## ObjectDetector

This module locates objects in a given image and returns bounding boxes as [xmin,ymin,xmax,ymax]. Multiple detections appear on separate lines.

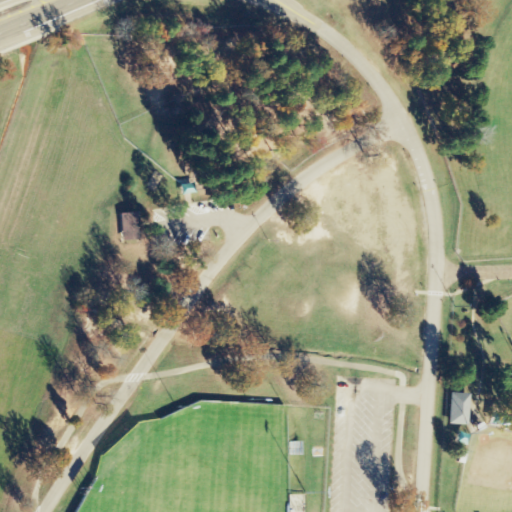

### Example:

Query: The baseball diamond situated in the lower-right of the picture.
[456,428,512,512]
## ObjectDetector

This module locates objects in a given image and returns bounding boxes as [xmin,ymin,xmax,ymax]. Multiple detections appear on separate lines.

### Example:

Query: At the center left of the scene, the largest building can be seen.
[116,212,141,240]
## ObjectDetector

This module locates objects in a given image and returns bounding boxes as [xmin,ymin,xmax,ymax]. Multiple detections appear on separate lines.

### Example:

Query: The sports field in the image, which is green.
[74,401,287,512]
